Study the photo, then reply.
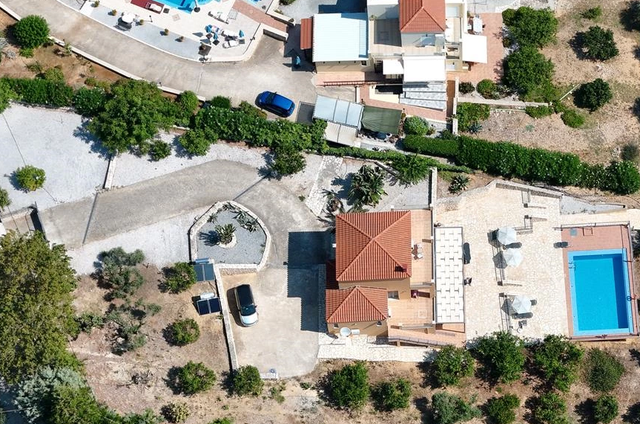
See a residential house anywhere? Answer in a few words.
Yes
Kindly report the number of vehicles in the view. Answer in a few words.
2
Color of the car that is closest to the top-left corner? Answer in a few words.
blue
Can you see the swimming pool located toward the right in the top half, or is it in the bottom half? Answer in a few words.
bottom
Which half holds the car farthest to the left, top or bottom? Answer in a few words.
bottom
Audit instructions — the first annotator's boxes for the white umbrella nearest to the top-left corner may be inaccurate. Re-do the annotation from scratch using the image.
[118,8,139,29]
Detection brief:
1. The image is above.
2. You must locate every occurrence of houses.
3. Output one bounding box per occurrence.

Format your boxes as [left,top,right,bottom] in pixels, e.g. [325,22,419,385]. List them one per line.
[300,0,487,110]
[325,209,466,351]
